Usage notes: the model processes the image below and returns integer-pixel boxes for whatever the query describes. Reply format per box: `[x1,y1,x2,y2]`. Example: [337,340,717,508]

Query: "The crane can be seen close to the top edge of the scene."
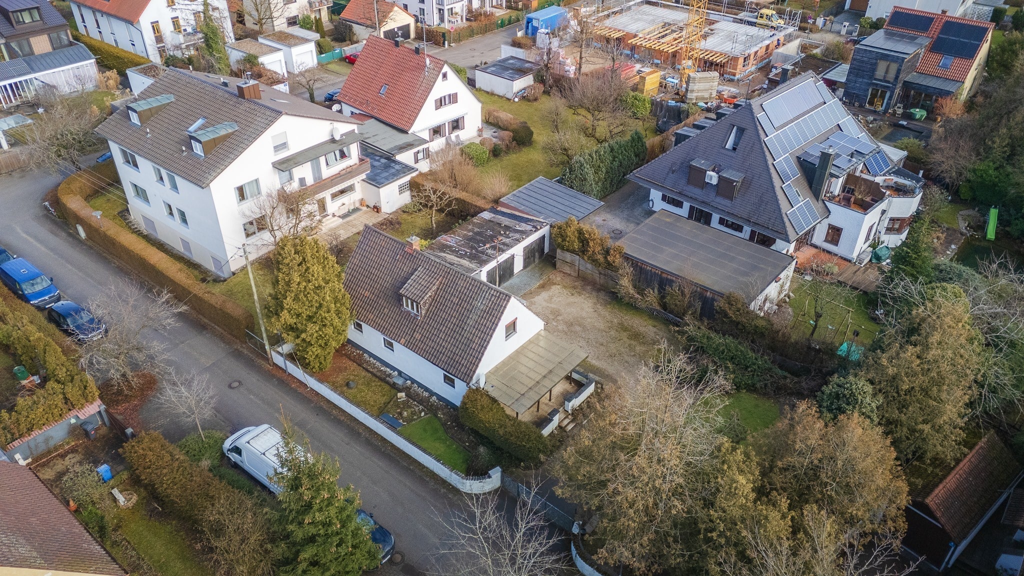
[660,0,726,85]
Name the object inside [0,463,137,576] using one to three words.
house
